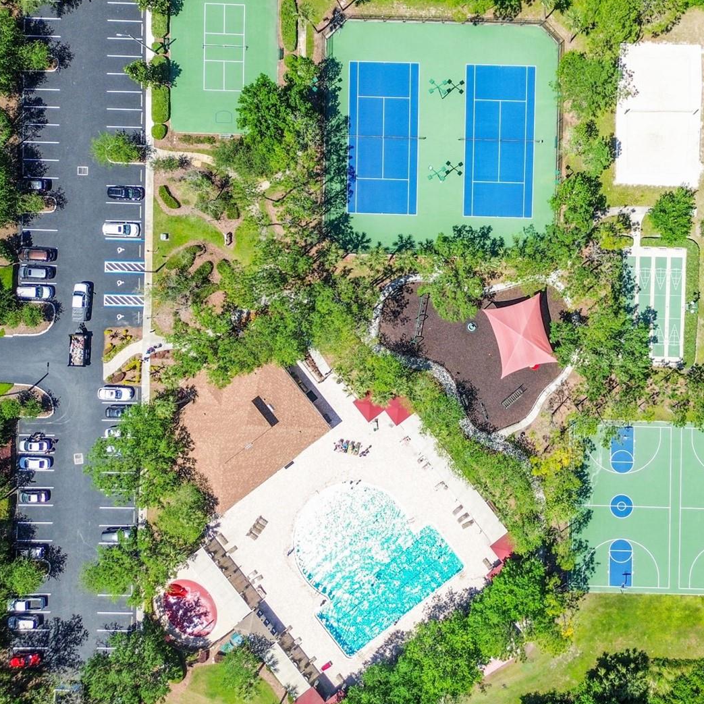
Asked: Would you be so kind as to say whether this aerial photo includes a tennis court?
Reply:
Yes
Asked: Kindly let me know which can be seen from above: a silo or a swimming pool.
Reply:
swimming pool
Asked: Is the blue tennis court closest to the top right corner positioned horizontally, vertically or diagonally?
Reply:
vertically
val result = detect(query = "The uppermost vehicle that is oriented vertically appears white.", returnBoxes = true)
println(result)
[70,285,89,324]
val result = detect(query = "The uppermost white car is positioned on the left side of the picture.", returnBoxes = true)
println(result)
[100,221,137,237]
